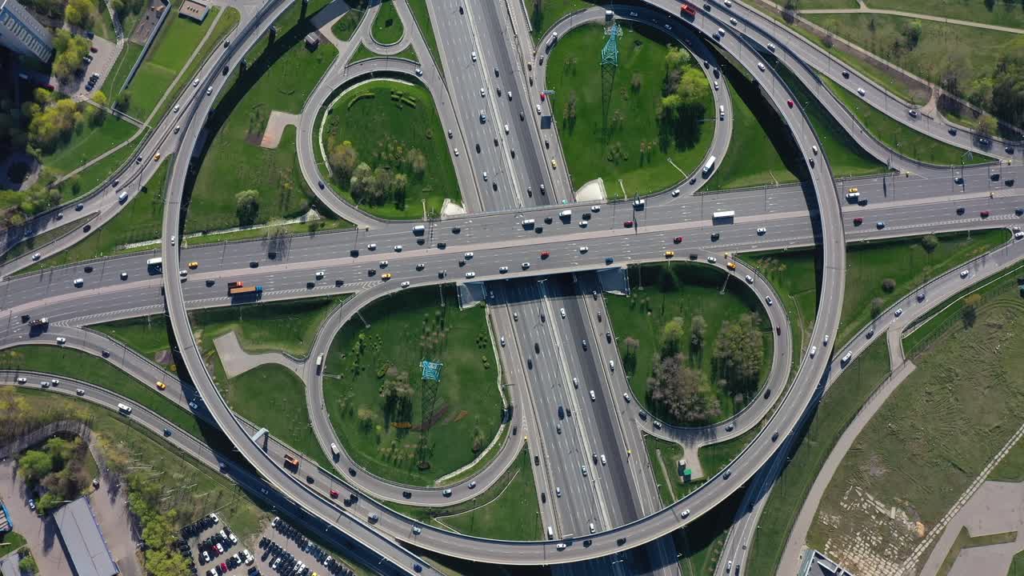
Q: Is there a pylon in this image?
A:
Yes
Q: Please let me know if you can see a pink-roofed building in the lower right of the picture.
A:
No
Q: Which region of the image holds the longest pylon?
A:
top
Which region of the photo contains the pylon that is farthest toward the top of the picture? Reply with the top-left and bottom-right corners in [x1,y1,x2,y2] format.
[599,26,624,68]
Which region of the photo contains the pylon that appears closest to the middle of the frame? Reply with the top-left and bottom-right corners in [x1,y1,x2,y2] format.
[415,361,441,383]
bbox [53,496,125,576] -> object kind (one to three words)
building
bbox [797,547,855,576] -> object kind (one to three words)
building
